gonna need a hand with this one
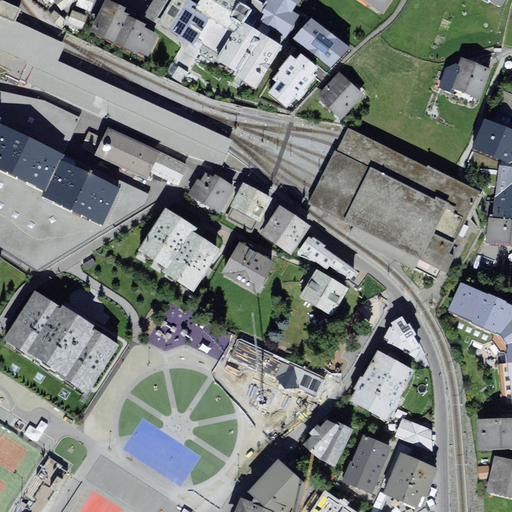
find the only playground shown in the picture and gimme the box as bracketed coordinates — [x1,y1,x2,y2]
[147,303,233,359]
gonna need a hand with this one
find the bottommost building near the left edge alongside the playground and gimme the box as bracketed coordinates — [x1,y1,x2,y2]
[5,291,118,394]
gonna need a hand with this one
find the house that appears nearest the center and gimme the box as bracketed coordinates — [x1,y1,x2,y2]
[223,242,274,294]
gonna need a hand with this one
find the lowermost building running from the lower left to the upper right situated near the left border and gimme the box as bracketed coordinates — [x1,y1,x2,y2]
[14,458,64,512]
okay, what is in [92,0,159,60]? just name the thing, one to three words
building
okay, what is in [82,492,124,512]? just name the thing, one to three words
sports court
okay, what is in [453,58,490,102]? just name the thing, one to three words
house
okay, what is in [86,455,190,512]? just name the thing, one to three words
sports court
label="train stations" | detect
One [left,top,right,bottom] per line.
[0,16,232,166]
